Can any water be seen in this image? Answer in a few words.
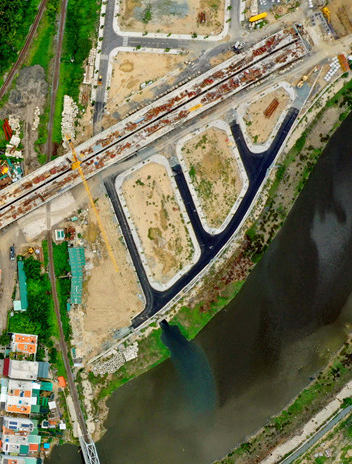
Yes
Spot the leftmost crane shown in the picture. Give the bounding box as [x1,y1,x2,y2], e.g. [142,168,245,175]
[61,132,119,272]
